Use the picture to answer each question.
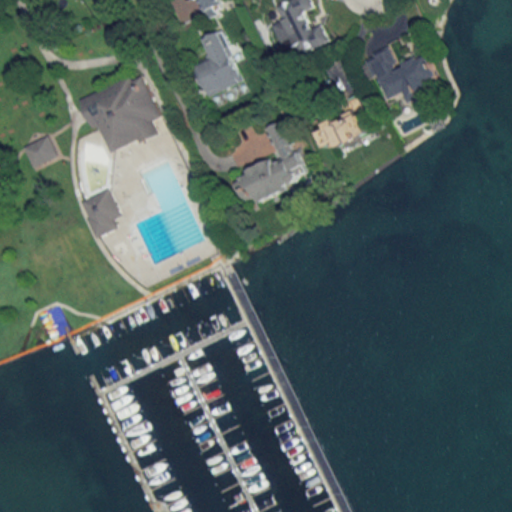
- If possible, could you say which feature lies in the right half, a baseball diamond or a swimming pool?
swimming pool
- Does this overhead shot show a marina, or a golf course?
marina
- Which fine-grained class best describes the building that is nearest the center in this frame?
residential house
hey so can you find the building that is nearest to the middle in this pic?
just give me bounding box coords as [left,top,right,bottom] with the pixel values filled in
[234,150,307,204]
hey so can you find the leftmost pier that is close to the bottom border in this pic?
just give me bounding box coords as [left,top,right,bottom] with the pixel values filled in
[90,376,183,512]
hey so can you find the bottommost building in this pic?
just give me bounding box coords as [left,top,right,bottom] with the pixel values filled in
[82,189,120,236]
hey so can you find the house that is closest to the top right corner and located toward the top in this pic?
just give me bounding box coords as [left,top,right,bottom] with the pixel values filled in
[370,45,434,100]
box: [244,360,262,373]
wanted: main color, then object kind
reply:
white boat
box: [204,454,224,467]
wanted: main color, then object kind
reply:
white boat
